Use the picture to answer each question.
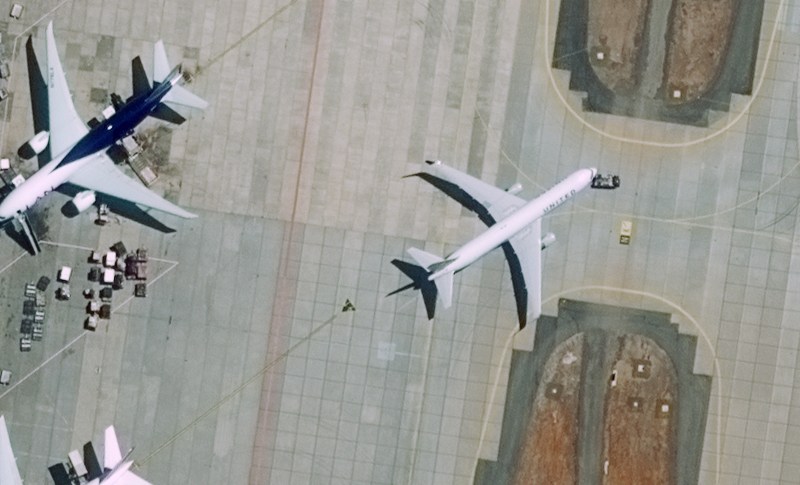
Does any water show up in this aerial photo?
No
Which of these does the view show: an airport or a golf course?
airport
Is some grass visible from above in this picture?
No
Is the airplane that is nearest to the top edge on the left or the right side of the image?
left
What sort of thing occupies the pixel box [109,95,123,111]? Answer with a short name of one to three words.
work vehicle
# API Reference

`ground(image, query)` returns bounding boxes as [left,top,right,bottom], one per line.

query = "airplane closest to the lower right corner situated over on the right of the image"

[407,162,598,324]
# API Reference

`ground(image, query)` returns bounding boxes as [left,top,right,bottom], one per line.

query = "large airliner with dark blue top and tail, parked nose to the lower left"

[0,20,212,219]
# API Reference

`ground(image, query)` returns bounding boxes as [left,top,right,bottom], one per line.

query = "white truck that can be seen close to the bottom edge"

[69,451,90,485]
